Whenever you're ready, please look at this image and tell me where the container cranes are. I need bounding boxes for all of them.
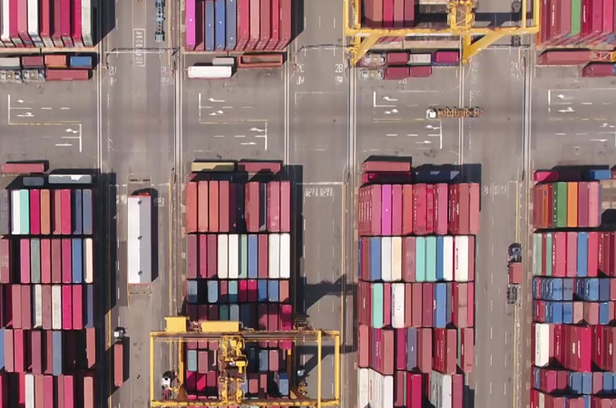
[346,0,539,67]
[150,311,341,407]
